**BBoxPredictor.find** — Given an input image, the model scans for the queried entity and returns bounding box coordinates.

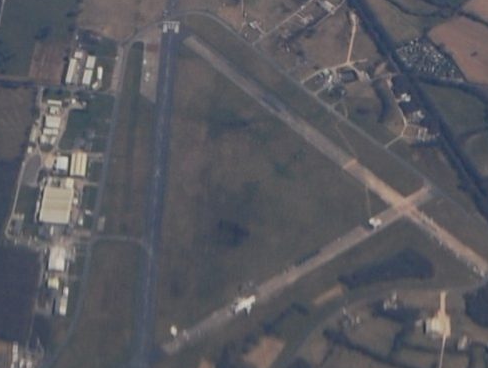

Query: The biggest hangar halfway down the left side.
[40,187,75,226]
